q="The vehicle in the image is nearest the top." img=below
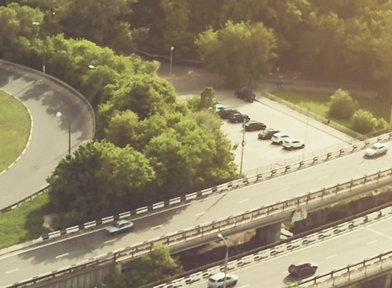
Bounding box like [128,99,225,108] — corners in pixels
[233,85,258,102]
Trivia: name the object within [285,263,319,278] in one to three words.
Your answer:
car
